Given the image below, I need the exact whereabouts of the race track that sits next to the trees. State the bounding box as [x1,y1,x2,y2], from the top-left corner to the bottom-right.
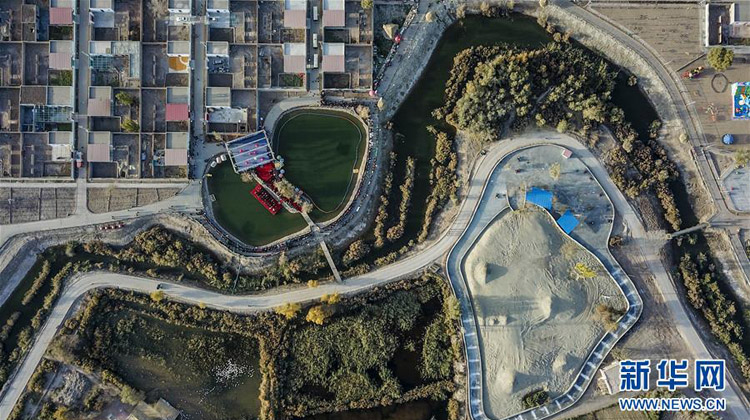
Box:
[448,162,639,420]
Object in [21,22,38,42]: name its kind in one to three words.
shed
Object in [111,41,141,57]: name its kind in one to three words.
shed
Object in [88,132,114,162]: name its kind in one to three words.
house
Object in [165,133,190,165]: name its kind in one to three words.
house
